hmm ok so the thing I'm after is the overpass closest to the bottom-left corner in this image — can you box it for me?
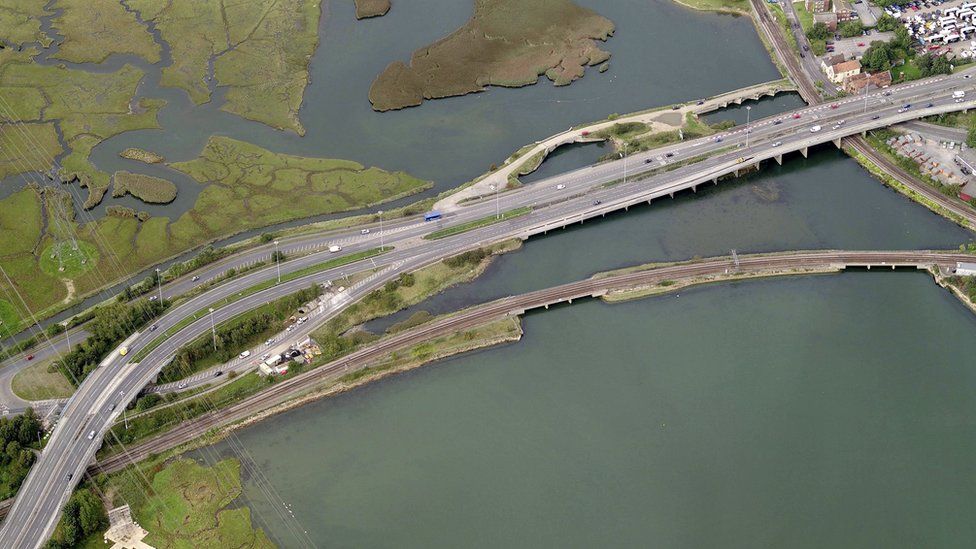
[0,337,176,549]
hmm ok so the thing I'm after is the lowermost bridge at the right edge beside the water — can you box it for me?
[829,249,935,275]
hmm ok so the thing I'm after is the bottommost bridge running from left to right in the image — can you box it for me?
[504,272,608,317]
